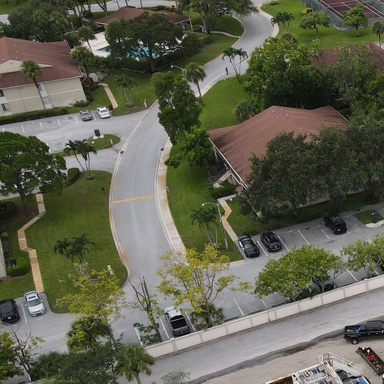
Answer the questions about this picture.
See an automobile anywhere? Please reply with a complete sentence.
Yes, the photo shows an automobile.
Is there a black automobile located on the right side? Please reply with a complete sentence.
Yes, on the right side there is a black automobile.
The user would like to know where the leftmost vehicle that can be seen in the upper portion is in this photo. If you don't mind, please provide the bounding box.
[78,106,93,118]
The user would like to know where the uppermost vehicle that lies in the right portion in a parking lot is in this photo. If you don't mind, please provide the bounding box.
[324,213,345,231]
